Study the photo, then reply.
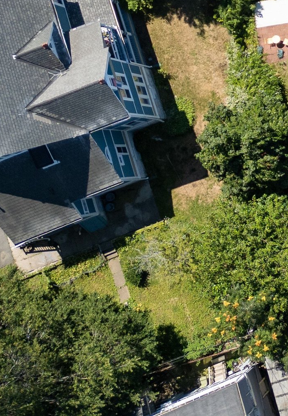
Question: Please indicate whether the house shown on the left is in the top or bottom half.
top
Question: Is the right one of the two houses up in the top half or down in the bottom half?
bottom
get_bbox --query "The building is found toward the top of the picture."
[0,0,163,247]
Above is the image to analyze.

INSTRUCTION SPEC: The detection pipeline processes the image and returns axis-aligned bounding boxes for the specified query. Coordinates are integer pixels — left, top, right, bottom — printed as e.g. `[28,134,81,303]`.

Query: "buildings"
[145,361,271,416]
[0,0,163,247]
